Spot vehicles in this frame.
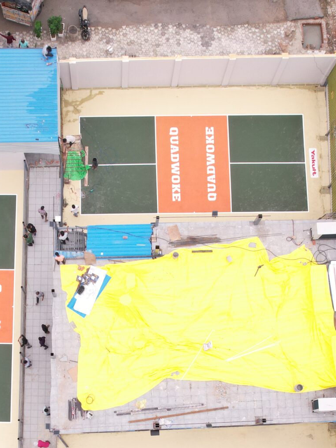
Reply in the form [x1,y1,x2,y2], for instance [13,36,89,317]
[80,2,95,39]
[2,0,39,30]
